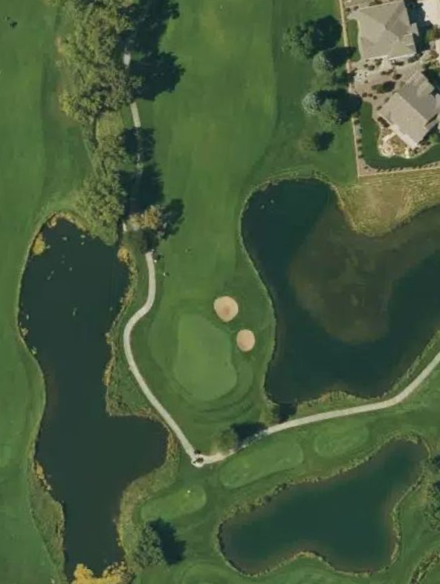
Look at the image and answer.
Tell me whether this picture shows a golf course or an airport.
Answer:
golf course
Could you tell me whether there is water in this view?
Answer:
Yes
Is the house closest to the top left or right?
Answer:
right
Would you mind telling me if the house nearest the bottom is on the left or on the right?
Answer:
right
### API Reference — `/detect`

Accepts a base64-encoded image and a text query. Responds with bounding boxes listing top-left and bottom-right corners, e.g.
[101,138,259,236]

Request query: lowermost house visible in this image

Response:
[378,70,440,141]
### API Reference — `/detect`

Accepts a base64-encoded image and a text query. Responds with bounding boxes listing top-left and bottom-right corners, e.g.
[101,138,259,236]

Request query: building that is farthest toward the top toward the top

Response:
[356,0,420,60]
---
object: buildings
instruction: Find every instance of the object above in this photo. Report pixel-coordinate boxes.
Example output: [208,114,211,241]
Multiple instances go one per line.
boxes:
[378,70,440,141]
[356,0,420,60]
